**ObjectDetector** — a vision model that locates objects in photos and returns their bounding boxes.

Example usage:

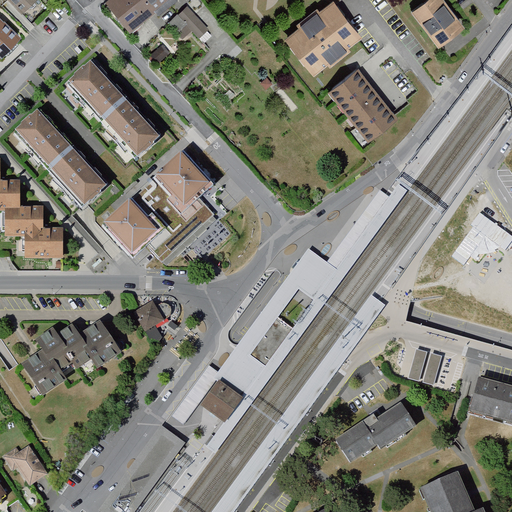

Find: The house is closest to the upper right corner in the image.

[412,0,464,48]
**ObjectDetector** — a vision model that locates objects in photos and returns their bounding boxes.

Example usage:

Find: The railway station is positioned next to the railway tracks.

[155,25,512,512]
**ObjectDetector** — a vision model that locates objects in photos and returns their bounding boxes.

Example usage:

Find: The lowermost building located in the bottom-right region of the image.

[418,470,487,512]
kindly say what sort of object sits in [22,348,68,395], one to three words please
house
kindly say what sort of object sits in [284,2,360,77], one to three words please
house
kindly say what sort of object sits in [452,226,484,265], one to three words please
shed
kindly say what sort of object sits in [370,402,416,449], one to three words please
building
